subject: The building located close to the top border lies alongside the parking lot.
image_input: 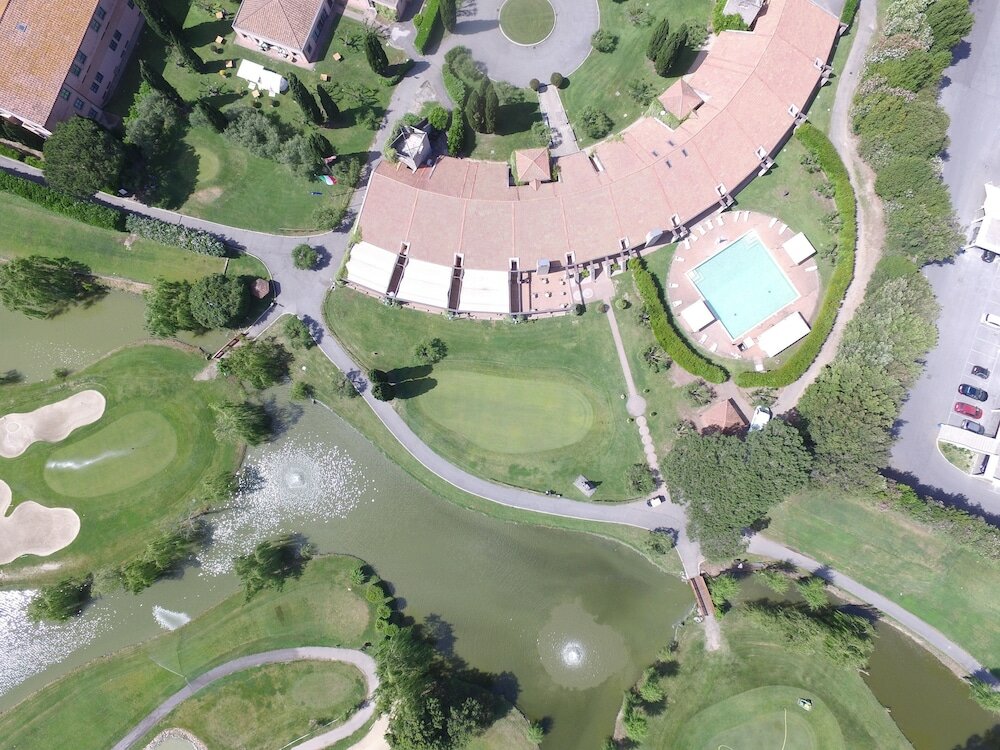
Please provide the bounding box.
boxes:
[356,0,844,276]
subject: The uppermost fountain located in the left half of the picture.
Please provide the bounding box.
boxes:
[261,452,328,510]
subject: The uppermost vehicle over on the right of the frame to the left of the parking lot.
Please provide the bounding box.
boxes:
[750,404,773,437]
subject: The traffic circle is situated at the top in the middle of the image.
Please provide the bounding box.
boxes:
[455,0,600,88]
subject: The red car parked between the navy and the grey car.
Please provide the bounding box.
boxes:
[954,400,989,421]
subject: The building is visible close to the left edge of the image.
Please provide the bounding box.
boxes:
[0,0,140,134]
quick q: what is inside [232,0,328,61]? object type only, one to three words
house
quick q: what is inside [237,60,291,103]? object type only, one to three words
tent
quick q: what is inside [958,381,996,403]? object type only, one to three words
car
